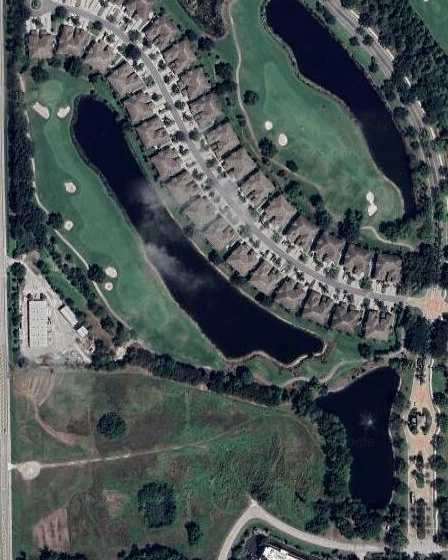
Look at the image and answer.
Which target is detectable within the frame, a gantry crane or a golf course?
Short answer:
golf course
